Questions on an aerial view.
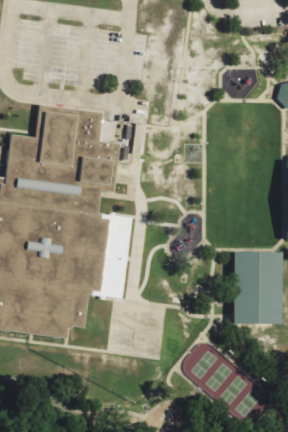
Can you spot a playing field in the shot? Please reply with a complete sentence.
Yes, I can see a playing field in this picture.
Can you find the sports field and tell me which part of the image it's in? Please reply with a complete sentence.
You can find the sports field in the right area of the picture.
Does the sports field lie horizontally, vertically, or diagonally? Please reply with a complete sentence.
The sports field is laid out vertically.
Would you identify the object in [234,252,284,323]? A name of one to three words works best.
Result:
building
